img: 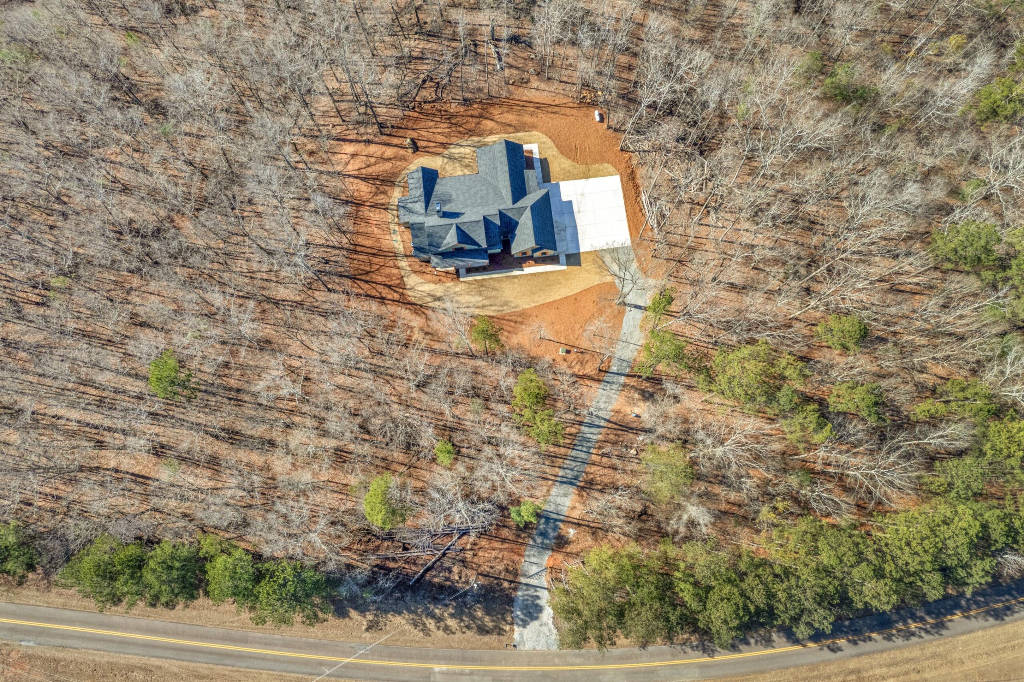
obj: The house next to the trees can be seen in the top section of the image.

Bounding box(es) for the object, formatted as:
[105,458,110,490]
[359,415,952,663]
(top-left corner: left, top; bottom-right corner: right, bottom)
[397,138,557,273]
